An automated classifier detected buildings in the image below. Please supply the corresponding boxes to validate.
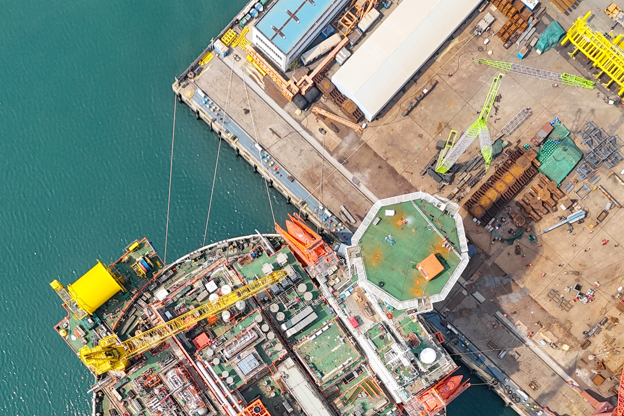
[336,0,488,123]
[251,0,353,73]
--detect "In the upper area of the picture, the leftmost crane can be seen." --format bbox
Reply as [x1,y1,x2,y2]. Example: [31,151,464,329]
[431,72,507,190]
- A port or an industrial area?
port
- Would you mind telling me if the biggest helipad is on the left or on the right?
right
